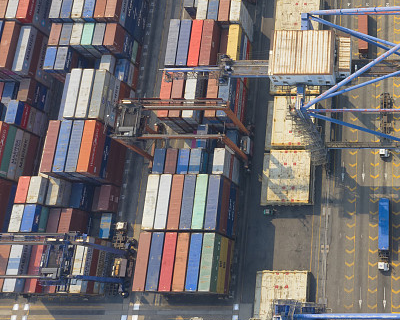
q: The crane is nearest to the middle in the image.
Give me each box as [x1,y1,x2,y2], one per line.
[110,98,255,171]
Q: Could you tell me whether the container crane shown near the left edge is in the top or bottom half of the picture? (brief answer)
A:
bottom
